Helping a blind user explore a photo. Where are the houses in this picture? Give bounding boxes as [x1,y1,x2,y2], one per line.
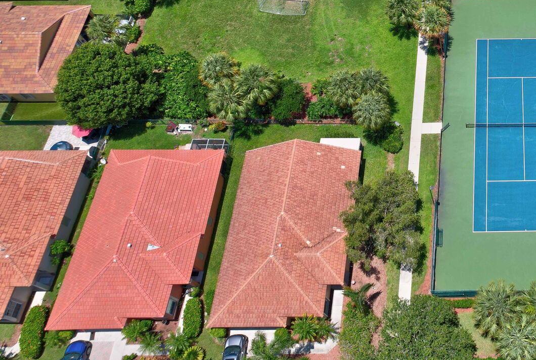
[0,151,92,321]
[46,149,227,332]
[205,137,362,329]
[0,1,93,100]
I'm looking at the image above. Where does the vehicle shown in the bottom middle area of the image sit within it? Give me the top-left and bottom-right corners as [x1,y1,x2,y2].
[219,333,246,360]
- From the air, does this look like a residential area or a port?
residential area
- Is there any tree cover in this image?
Yes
